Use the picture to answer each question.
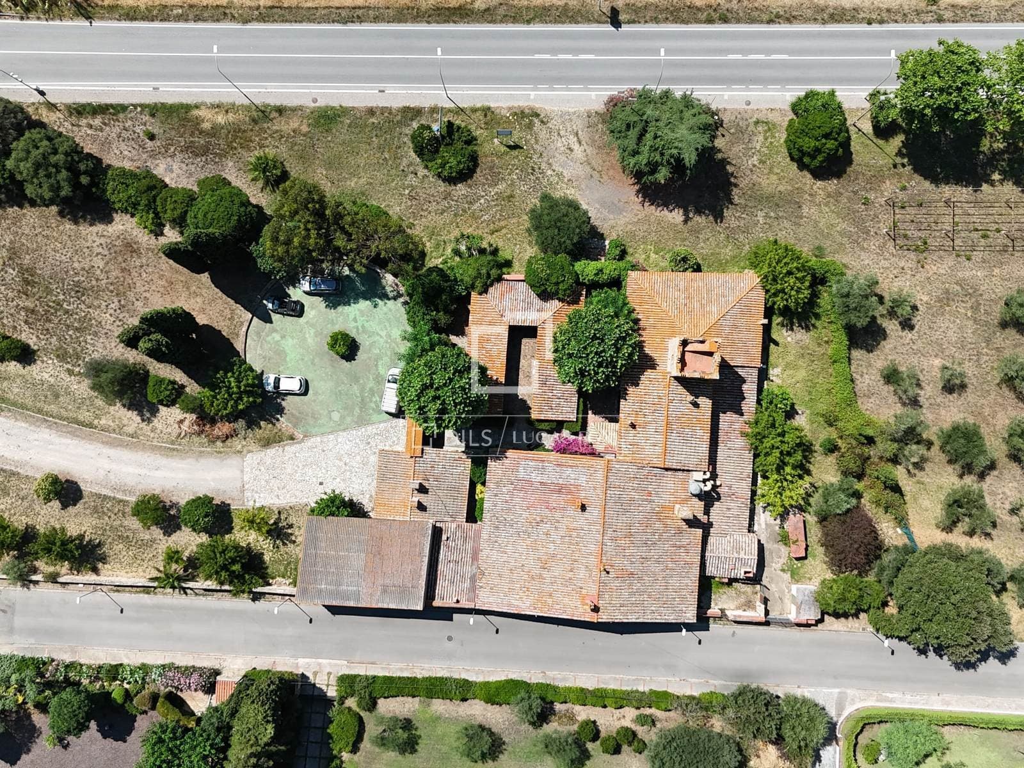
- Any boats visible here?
No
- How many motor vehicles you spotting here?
4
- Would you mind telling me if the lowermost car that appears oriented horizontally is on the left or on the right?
left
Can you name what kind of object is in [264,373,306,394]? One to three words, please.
car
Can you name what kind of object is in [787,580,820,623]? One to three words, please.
shed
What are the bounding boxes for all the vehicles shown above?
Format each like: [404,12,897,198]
[266,295,305,319]
[264,373,306,394]
[300,276,340,297]
[379,368,402,415]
